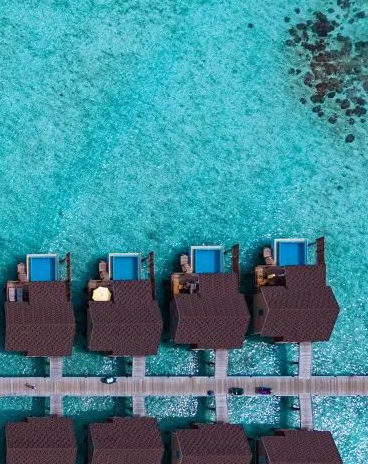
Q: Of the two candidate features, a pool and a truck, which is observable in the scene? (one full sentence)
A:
I can see a pool in this picture.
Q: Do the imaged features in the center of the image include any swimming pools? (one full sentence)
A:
Yes, a swimming pool is visible in the center of the image.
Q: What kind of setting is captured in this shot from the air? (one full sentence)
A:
This image shows a residential area.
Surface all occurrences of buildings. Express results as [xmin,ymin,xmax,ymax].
[84,250,163,356]
[6,417,77,464]
[87,418,165,464]
[246,236,339,341]
[164,243,250,348]
[168,425,253,464]
[4,251,76,357]
[249,432,342,464]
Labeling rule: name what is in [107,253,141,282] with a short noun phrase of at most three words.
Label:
swimming pool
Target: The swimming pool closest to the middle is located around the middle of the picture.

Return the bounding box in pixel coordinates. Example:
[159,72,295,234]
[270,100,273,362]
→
[187,246,223,275]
